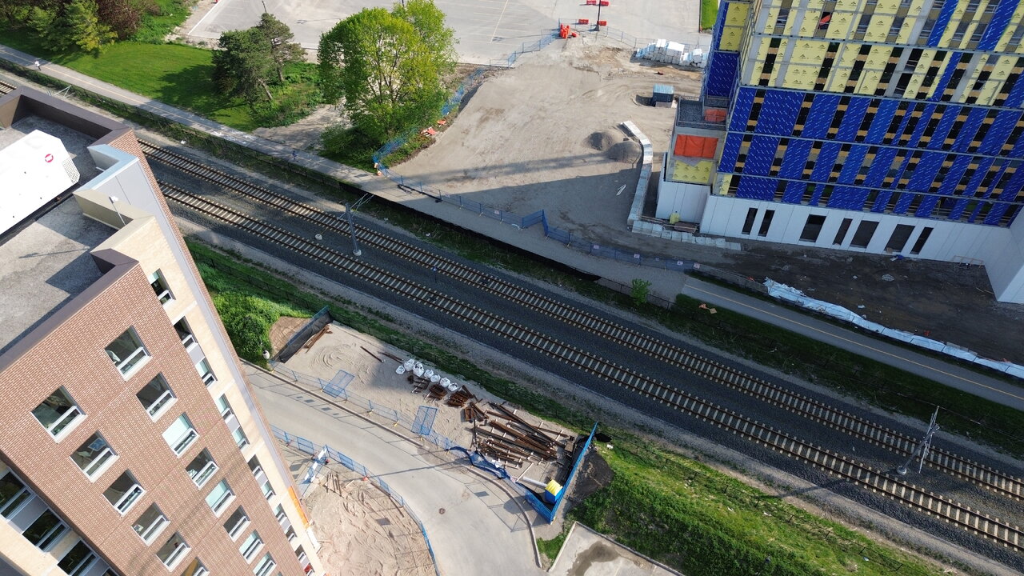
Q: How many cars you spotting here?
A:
zero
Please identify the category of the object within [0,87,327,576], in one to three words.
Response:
building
